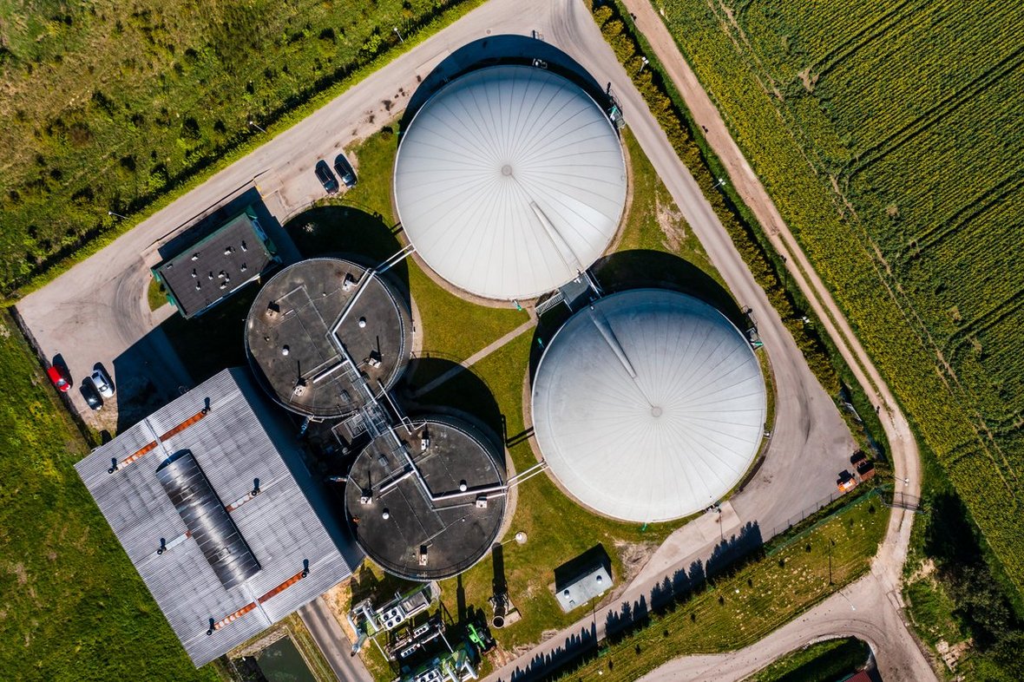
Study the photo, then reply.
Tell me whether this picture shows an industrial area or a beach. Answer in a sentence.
It's an industrial area.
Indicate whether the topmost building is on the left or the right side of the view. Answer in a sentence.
It is on the left.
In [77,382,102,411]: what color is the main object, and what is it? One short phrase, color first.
black car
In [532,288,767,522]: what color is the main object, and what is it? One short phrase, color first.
white storage tank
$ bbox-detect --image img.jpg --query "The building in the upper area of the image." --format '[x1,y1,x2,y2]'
[151,205,284,318]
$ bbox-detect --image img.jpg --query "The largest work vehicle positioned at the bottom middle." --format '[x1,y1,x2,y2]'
[463,623,495,661]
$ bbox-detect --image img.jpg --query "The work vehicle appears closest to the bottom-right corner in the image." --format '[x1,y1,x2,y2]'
[829,473,858,493]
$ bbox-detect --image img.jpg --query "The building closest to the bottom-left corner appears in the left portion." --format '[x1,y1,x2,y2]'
[74,369,363,667]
